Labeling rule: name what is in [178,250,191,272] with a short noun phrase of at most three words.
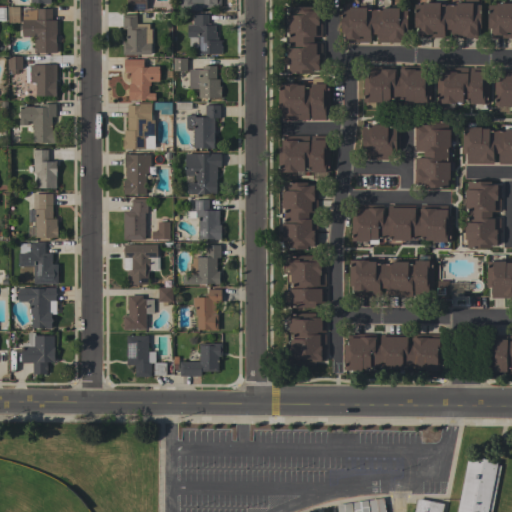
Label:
swimming pool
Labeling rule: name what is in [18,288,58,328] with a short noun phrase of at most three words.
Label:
house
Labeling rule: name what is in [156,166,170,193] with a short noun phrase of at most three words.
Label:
swimming pool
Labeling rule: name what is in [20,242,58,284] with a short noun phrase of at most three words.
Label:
house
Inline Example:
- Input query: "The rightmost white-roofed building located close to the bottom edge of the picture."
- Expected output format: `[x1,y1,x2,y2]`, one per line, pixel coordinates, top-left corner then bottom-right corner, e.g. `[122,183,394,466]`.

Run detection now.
[459,460,502,512]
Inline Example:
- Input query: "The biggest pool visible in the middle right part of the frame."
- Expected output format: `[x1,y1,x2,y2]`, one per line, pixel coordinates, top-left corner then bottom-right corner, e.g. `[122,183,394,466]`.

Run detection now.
[448,260,475,278]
